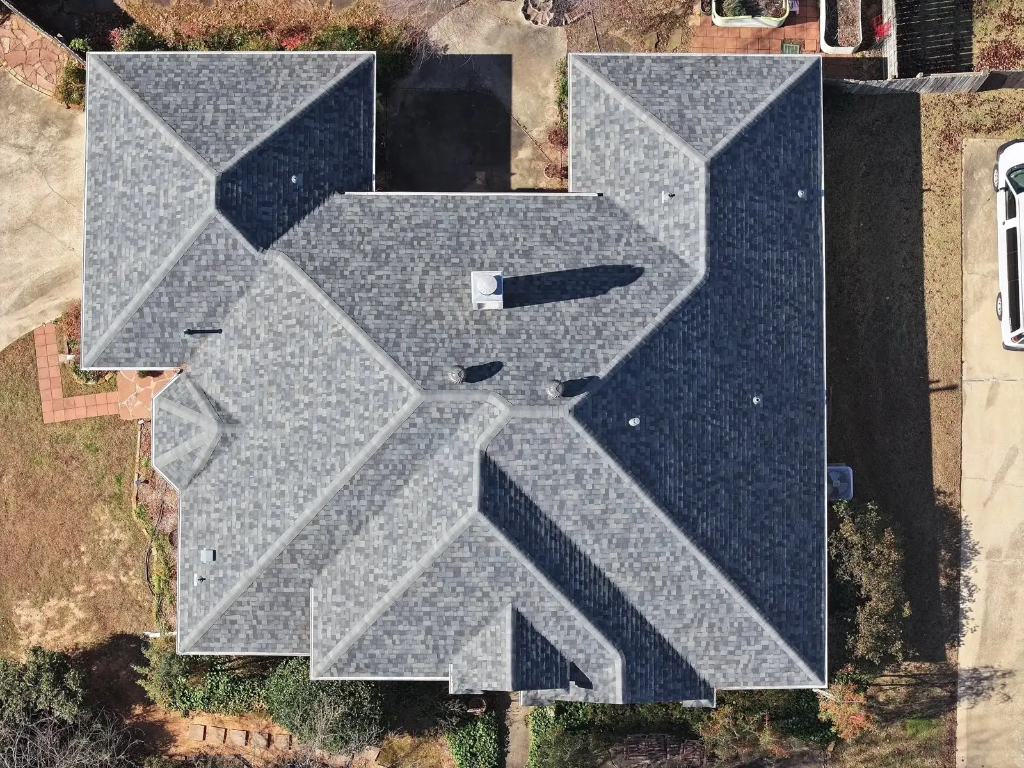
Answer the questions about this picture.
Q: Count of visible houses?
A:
1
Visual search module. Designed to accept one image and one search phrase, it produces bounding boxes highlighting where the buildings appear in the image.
[82,53,827,706]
